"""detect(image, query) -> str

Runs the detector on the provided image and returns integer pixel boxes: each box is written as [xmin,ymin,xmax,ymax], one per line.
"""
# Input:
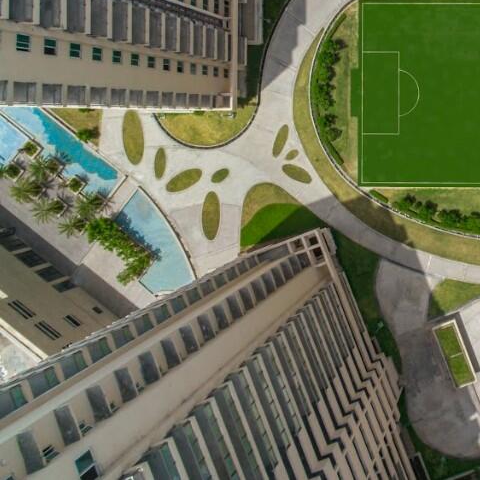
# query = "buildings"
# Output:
[0,0,266,111]
[0,218,423,480]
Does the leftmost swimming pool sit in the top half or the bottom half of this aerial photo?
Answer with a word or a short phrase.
top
